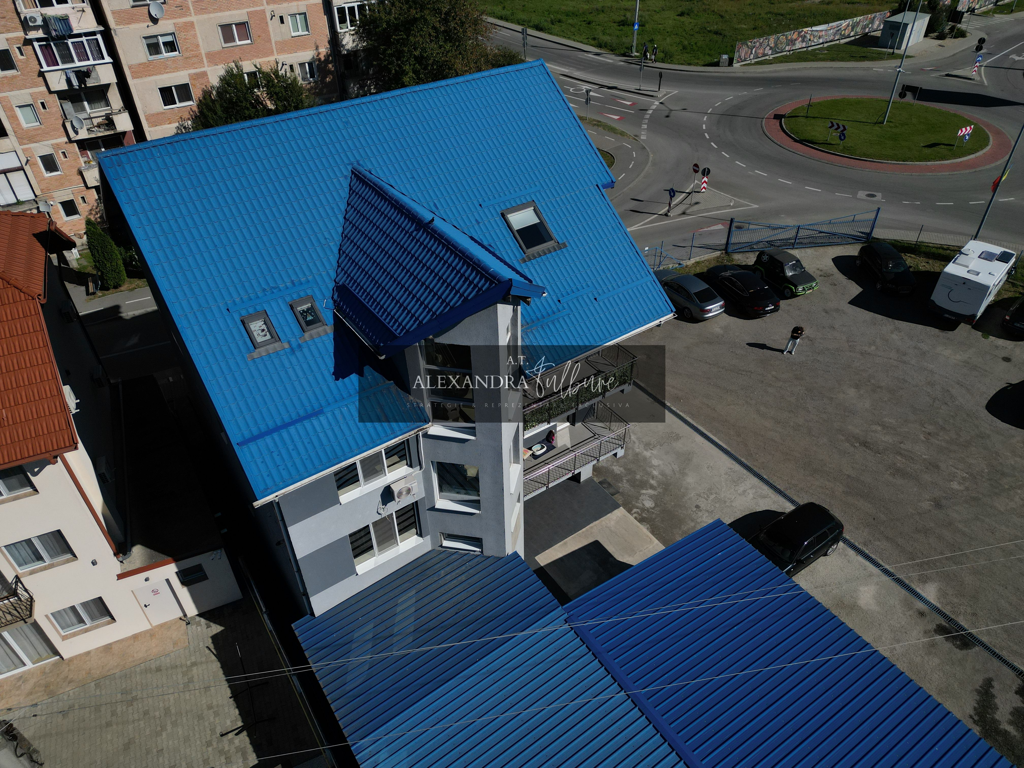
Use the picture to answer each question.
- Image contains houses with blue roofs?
Yes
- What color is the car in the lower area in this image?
black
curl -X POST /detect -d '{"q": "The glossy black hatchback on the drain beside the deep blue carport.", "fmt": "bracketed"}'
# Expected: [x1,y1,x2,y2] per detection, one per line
[750,498,854,580]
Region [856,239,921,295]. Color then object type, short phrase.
black car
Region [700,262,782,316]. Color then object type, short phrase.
black car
